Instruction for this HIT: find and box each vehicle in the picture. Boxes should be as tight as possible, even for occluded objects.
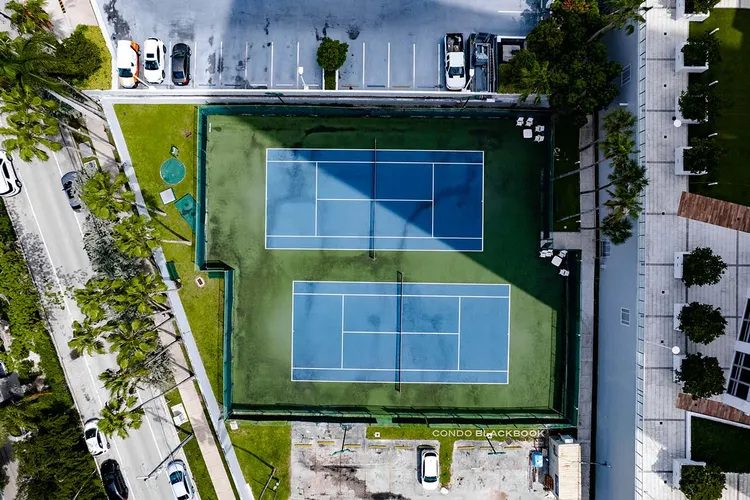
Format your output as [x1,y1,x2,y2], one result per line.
[116,40,140,89]
[168,460,197,500]
[444,34,466,92]
[169,45,191,87]
[419,444,439,488]
[142,38,166,85]
[82,415,112,457]
[59,170,88,213]
[467,32,495,92]
[100,460,131,500]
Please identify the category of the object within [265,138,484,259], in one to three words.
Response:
tennis court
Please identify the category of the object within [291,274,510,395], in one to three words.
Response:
tennis court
